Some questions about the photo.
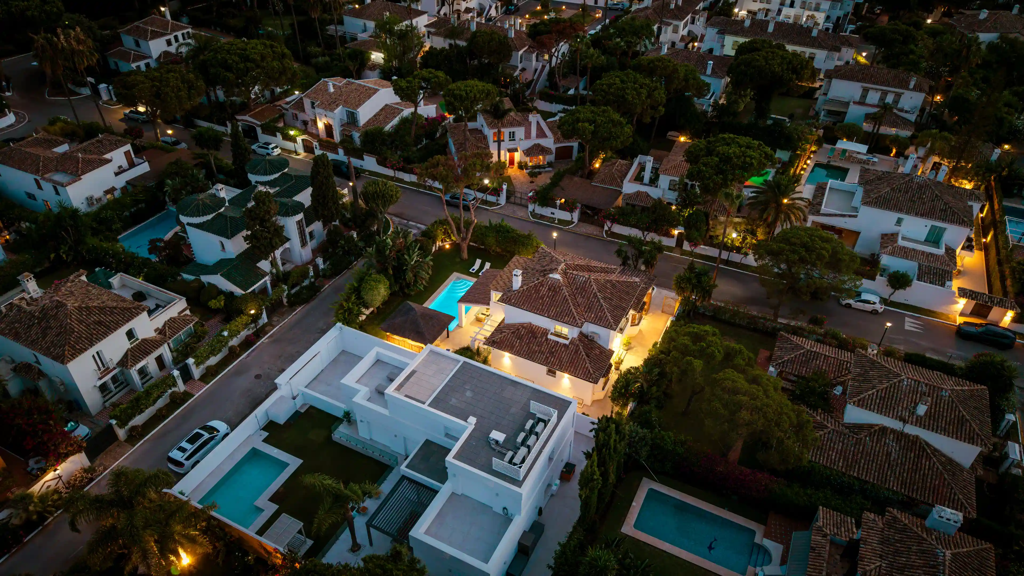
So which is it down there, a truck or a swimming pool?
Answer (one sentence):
Of the two, only a swimming pool appears.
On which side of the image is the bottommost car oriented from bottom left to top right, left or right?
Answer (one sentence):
The bottommost car oriented from bottom left to top right appears in the left half of the scene.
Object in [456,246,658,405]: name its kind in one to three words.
house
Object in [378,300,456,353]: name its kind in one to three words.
building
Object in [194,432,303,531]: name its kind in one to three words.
swimming pool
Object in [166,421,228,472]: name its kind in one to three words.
car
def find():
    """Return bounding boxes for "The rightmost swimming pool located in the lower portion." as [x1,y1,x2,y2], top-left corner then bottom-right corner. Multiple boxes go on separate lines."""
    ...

[619,477,782,576]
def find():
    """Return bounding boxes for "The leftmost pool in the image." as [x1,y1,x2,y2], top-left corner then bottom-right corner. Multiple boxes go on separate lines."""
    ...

[113,205,188,265]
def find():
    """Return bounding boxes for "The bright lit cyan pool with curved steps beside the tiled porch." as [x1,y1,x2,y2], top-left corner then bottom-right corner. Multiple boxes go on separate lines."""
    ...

[422,272,479,334]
